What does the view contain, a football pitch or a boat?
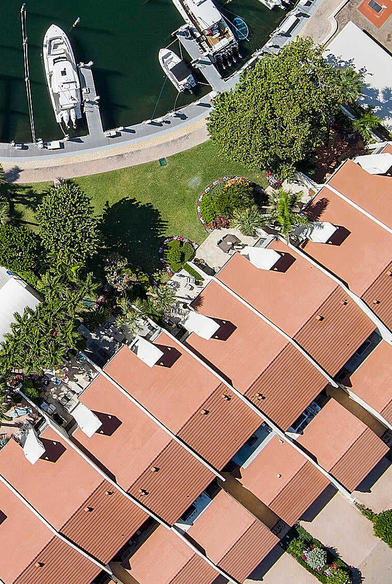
boat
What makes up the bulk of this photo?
buildings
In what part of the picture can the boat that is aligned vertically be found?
top left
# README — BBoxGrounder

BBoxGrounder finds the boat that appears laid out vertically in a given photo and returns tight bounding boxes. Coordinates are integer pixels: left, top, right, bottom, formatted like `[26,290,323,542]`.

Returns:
[44,24,86,135]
